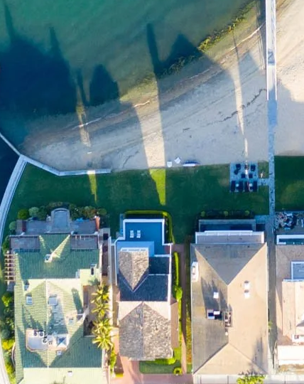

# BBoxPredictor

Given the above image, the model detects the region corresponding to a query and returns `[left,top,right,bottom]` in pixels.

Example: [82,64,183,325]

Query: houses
[275,231,304,365]
[114,218,181,360]
[14,231,112,384]
[191,229,270,374]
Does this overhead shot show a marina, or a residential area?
residential area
